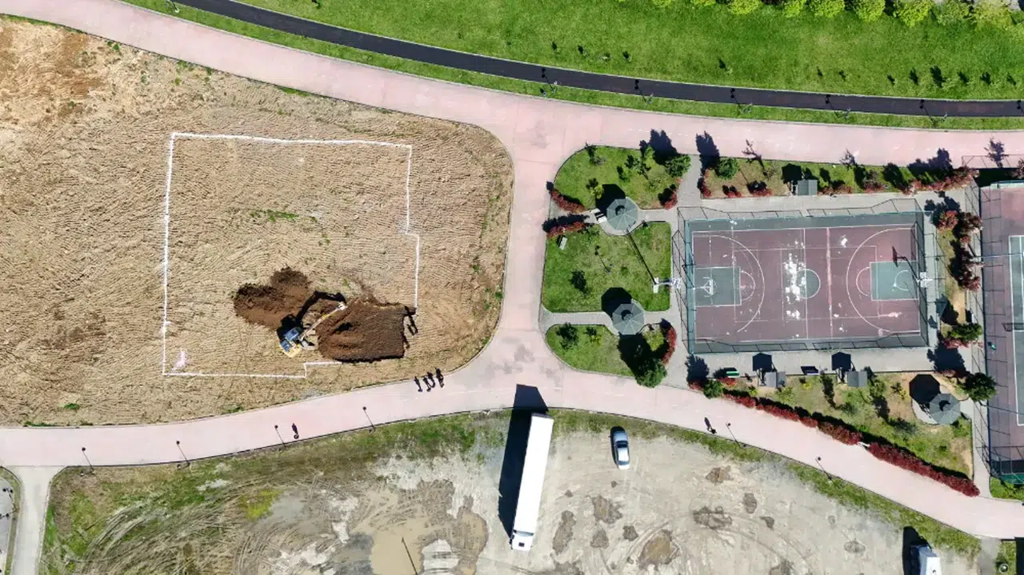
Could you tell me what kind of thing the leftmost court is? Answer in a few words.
basketball court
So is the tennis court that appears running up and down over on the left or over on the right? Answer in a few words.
right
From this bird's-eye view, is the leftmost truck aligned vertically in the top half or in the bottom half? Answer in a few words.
bottom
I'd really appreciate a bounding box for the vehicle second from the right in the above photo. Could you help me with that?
[611,427,630,468]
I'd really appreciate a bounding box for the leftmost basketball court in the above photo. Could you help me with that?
[685,211,928,355]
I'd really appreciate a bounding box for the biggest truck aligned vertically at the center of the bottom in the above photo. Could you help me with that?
[508,408,554,550]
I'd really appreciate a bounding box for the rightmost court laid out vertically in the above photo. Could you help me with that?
[979,184,1024,478]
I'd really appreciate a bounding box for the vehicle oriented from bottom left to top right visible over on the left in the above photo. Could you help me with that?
[276,305,344,358]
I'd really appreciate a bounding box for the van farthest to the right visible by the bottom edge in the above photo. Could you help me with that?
[912,547,940,575]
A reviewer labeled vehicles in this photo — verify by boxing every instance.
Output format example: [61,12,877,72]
[912,547,940,575]
[508,408,554,550]
[276,305,344,358]
[611,427,630,468]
